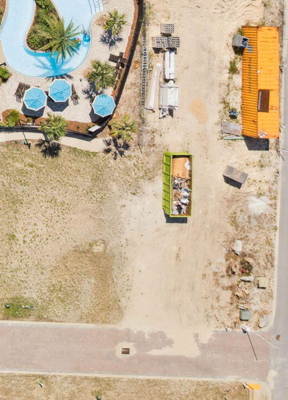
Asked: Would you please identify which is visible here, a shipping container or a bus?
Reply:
shipping container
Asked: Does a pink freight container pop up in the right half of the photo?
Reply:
No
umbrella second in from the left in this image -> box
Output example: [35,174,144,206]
[47,78,70,101]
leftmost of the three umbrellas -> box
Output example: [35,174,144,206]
[23,86,46,109]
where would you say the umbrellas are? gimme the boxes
[23,86,46,109]
[90,93,115,118]
[47,78,70,101]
